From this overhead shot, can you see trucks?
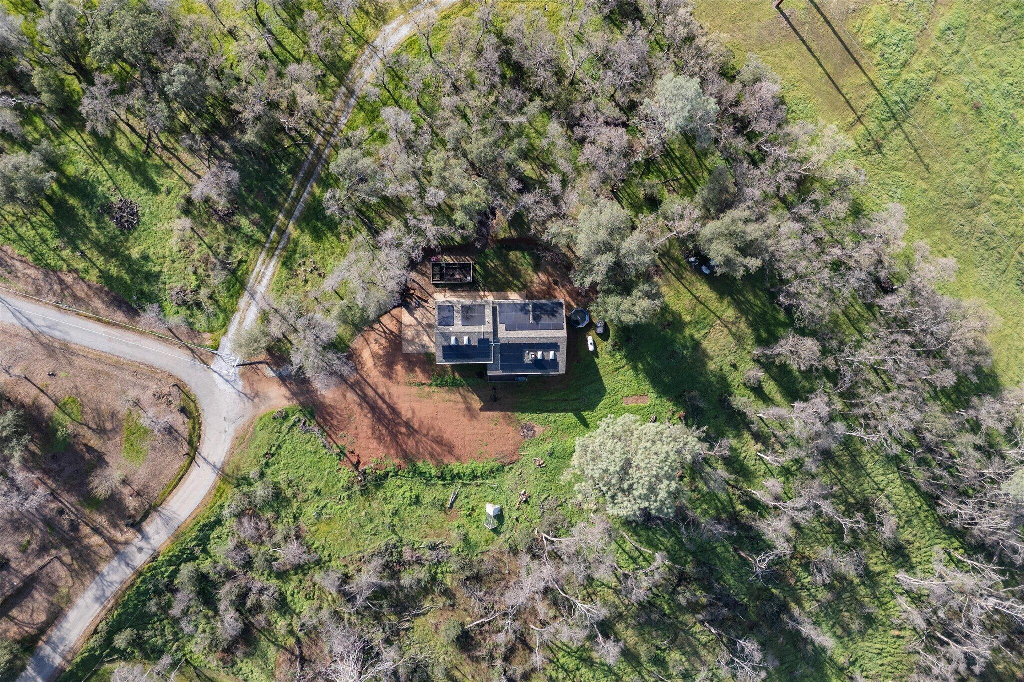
No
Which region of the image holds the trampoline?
center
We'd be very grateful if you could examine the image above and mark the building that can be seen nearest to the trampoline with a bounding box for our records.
[434,299,567,382]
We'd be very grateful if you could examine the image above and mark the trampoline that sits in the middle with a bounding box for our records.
[570,306,592,328]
